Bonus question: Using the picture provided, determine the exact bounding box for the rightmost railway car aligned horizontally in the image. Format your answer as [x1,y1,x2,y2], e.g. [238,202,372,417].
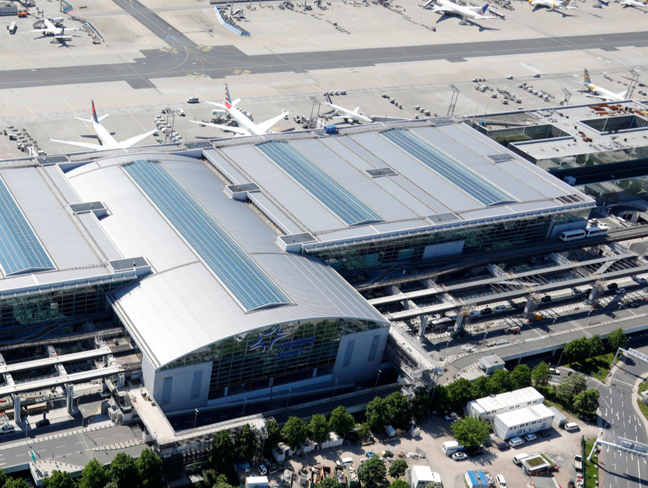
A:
[588,225,615,240]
